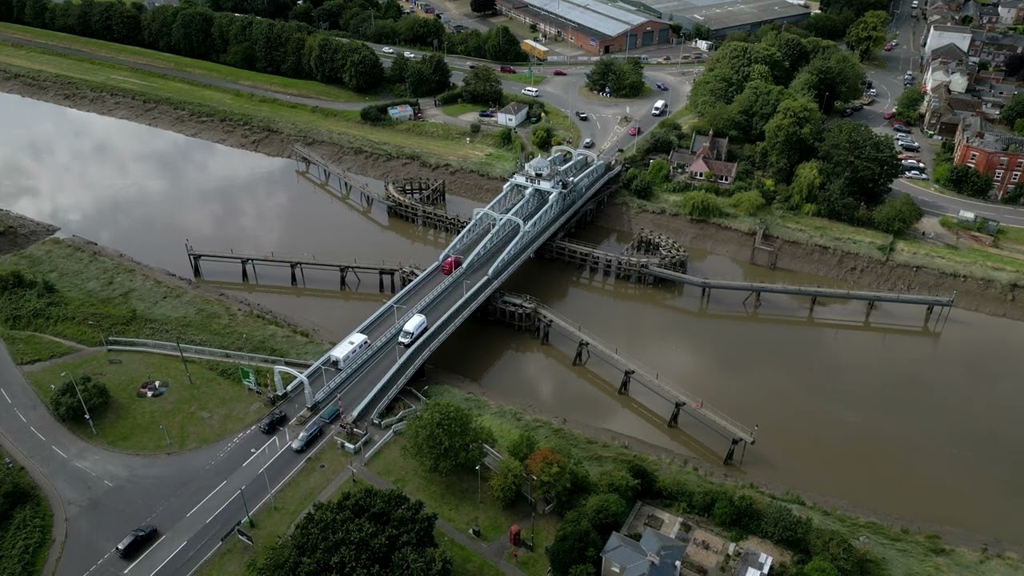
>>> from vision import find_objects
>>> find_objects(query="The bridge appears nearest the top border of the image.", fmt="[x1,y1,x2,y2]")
[439,146,622,291]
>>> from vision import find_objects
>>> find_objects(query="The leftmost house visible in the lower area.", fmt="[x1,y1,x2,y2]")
[601,528,689,576]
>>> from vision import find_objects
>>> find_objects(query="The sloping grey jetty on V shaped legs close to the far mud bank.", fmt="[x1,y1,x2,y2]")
[289,143,399,212]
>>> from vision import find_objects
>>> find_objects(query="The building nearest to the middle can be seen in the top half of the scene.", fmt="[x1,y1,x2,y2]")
[496,103,533,128]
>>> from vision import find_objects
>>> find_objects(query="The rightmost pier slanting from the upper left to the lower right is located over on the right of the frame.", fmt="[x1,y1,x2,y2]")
[533,303,758,449]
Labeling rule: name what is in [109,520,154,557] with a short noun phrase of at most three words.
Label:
car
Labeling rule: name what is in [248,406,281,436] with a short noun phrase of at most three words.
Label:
car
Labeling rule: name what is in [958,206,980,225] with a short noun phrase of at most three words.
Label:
shed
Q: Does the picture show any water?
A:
Yes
